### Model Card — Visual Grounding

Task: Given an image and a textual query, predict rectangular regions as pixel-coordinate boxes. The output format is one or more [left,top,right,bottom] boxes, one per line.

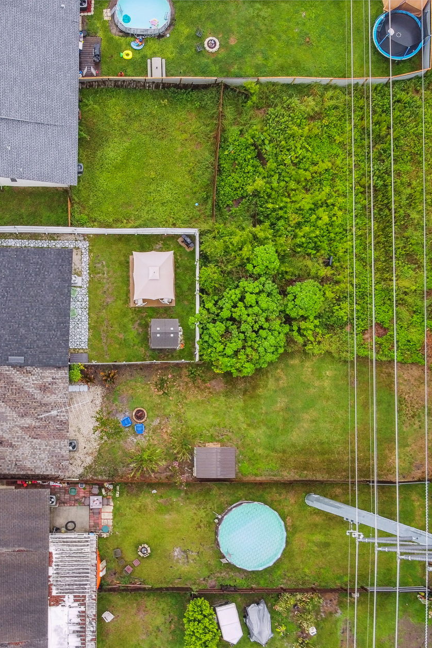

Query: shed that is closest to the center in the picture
[152,319,178,350]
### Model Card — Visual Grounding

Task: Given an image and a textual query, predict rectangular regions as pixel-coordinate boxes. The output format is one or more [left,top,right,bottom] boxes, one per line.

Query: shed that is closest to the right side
[194,447,235,478]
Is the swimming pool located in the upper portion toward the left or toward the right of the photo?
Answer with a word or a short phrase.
left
